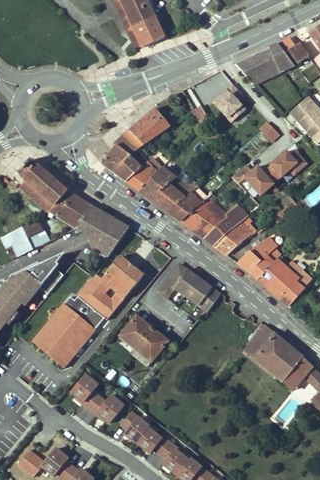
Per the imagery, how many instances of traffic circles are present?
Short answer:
1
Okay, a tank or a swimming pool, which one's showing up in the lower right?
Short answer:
swimming pool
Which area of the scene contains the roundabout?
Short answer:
top left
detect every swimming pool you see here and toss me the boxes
[304,184,320,208]
[270,384,318,428]
[118,376,132,386]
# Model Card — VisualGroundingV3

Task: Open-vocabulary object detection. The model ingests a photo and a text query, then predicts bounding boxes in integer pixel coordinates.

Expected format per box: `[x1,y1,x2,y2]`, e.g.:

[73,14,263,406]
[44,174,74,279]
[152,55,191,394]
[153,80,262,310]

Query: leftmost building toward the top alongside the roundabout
[20,162,68,212]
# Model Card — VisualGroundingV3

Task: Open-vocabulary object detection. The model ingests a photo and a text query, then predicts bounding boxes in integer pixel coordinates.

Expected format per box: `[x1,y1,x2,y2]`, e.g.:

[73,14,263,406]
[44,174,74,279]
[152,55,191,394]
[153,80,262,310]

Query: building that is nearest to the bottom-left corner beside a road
[14,451,45,480]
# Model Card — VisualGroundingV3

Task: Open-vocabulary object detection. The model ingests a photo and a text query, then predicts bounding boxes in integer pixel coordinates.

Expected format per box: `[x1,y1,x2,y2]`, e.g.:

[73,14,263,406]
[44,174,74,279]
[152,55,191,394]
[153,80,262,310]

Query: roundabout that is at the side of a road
[10,70,96,154]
